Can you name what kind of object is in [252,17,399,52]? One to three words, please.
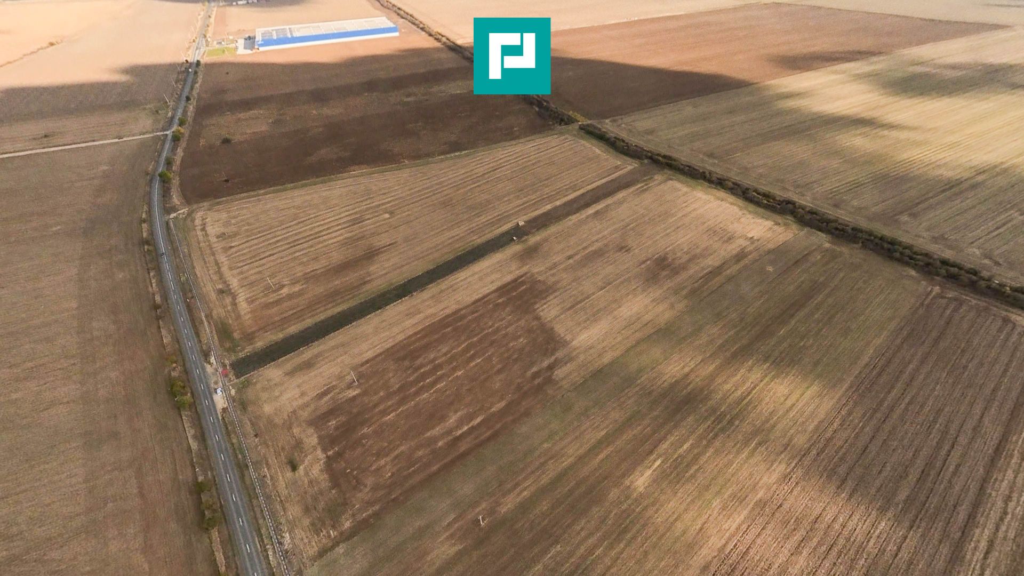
building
